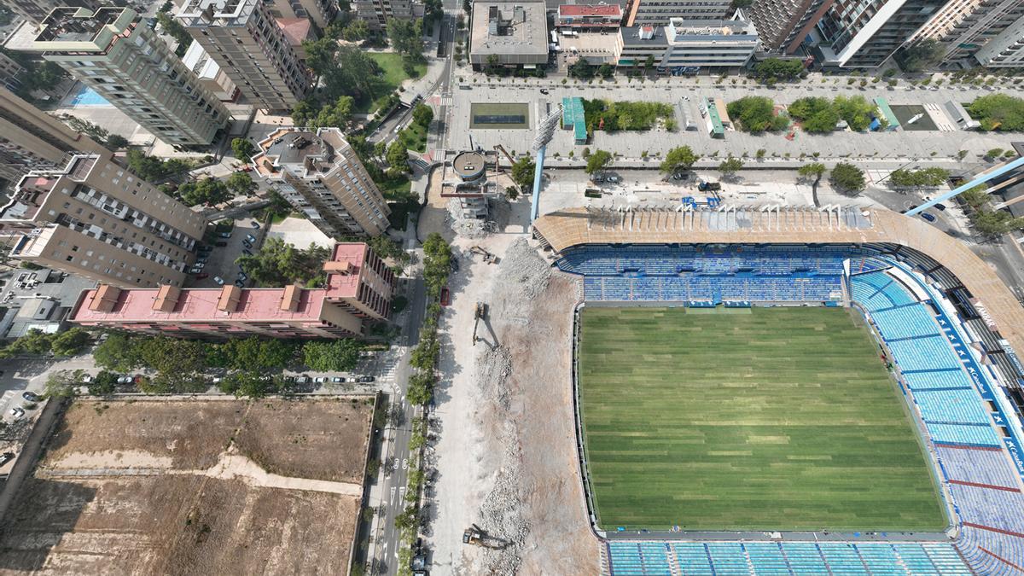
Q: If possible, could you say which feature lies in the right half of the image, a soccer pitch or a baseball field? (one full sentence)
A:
Looking in the right half of the image, you will find a soccer pitch.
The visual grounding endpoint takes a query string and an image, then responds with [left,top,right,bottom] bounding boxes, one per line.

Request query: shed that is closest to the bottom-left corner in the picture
[0,395,57,510]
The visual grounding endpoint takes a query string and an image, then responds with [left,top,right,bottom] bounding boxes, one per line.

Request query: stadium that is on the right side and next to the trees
[534,203,1024,576]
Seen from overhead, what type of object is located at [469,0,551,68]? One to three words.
building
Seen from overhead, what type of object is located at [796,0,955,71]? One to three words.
building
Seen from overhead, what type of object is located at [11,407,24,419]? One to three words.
vehicle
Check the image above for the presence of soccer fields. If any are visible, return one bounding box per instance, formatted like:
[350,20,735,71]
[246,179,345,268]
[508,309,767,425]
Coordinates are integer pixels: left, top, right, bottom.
[575,302,955,540]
